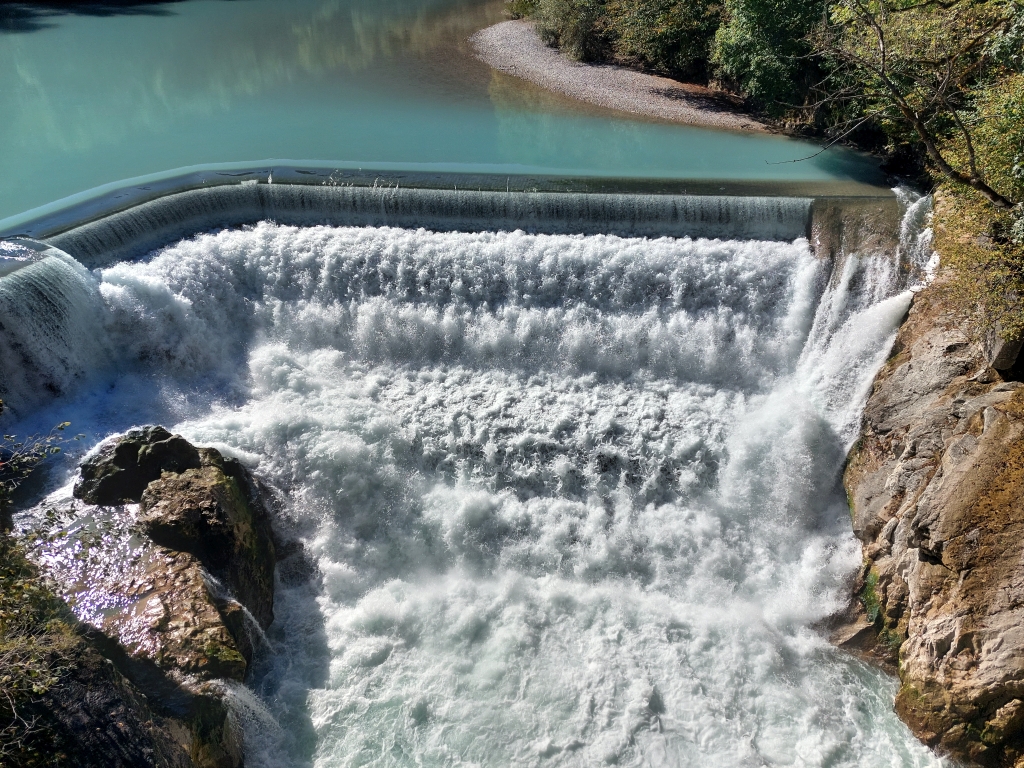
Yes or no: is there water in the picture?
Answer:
Yes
